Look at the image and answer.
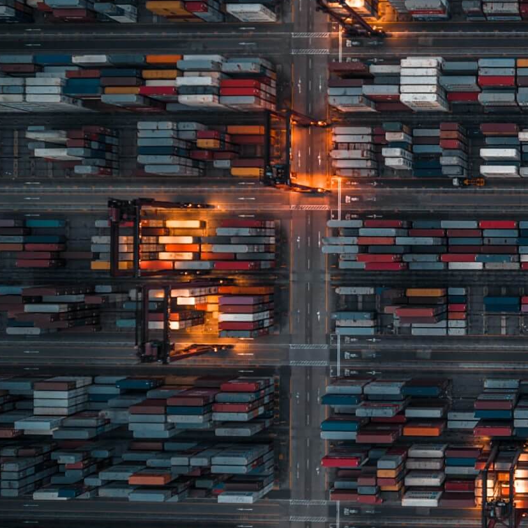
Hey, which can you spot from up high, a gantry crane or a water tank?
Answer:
gantry crane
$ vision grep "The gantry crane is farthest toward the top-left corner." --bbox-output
[110,194,212,281]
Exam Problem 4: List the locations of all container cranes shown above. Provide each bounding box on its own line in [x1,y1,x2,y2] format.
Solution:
[317,0,384,32]
[261,102,336,192]
[110,194,212,281]
[481,439,528,528]
[140,277,233,365]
